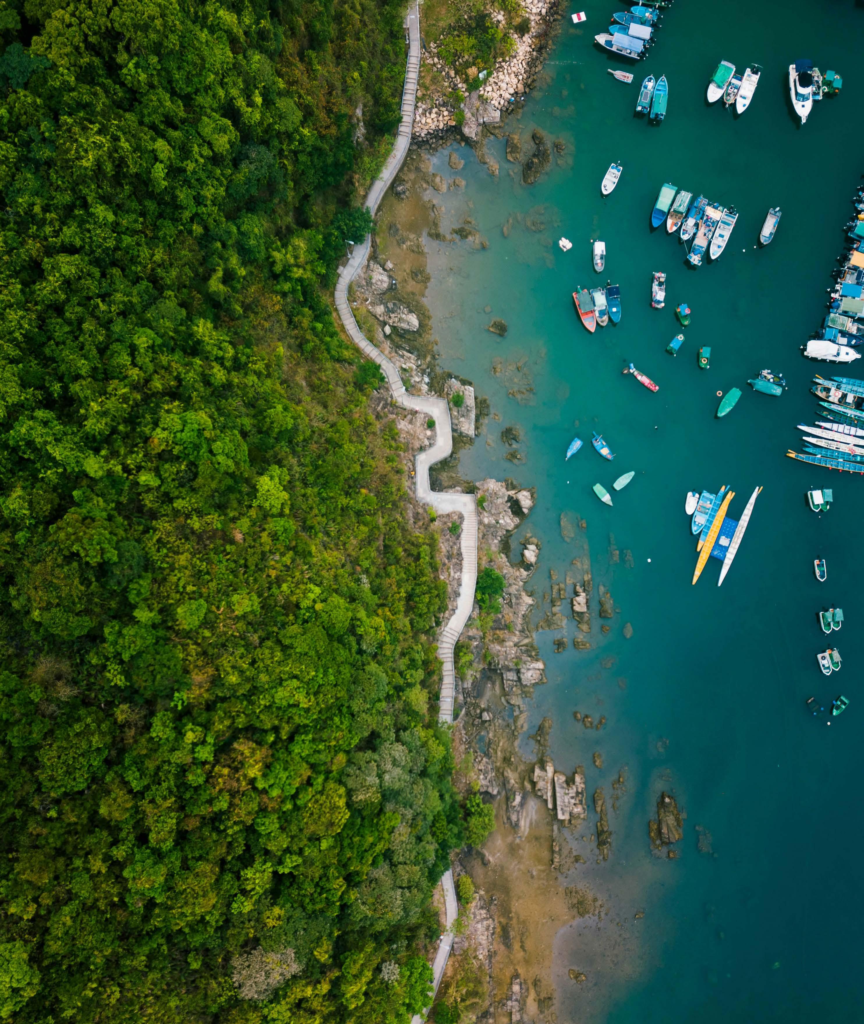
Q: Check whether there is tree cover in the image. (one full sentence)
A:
Yes, tree cover shows up in the scene.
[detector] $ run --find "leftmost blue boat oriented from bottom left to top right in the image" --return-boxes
[566,439,582,460]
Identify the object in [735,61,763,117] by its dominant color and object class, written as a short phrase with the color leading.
white boat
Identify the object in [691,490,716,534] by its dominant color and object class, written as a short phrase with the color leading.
blue boat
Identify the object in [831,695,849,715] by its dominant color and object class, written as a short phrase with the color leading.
green boat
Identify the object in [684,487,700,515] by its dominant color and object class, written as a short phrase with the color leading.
white boat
